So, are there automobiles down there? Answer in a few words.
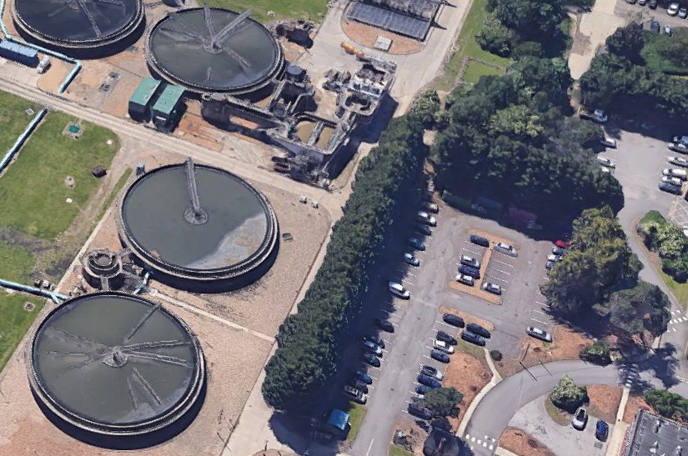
Yes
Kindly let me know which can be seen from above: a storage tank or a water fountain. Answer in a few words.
storage tank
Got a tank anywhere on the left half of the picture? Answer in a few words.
Yes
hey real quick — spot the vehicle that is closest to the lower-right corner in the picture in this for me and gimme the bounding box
[595,419,609,442]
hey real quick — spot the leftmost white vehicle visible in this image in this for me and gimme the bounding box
[38,53,52,73]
